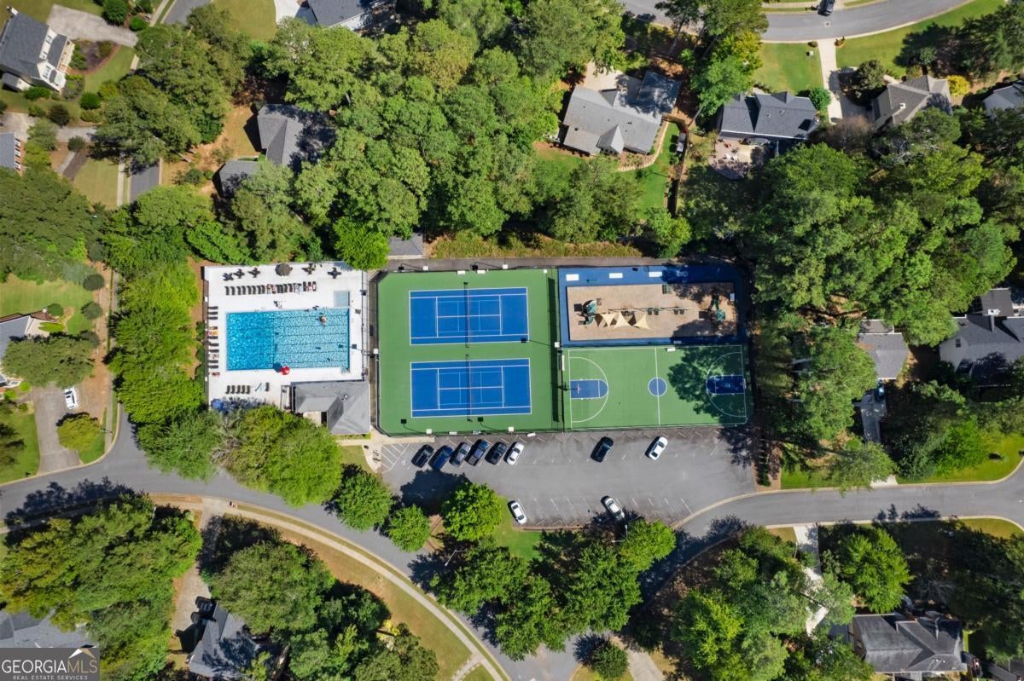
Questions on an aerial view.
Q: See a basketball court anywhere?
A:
Yes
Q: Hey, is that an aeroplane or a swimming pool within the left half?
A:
swimming pool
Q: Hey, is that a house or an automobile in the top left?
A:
house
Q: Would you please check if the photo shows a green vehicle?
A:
No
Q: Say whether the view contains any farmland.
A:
No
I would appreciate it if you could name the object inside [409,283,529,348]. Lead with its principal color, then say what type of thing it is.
blue tennis court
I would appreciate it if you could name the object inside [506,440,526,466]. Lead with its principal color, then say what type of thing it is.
white car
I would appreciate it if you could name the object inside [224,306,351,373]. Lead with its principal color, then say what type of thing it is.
blue swimming pool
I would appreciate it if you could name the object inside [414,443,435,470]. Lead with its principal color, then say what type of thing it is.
black car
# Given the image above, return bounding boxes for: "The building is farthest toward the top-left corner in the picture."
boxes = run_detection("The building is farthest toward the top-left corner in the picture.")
[0,4,76,92]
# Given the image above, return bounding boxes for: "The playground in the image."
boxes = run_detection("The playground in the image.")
[559,263,755,347]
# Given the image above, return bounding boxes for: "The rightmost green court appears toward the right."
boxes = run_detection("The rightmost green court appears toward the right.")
[562,342,753,431]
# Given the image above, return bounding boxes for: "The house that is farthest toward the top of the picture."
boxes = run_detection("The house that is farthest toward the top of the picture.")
[309,0,366,31]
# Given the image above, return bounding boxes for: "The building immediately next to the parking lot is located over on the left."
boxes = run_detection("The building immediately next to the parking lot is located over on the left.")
[290,380,371,435]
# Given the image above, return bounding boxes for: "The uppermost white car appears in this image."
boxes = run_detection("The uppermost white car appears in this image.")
[62,385,80,412]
